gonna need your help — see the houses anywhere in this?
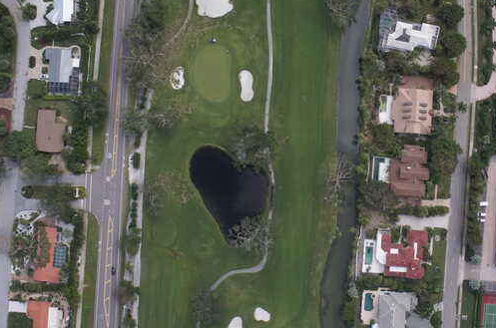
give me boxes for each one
[389,144,430,199]
[371,290,417,328]
[44,47,81,95]
[379,9,440,51]
[376,230,428,279]
[392,88,434,134]
[46,0,77,24]
[27,301,65,328]
[33,228,68,284]
[36,109,67,153]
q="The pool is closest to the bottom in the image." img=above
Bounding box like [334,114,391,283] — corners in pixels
[361,290,379,325]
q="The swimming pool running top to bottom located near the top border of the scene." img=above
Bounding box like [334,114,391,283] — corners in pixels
[378,8,397,50]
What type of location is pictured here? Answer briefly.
golf course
